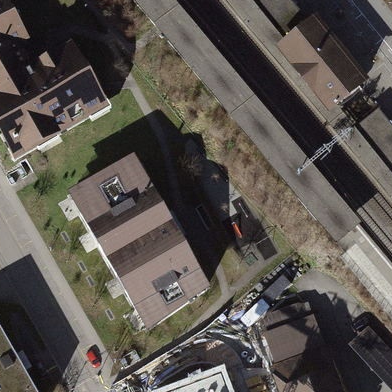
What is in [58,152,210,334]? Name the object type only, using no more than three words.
house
